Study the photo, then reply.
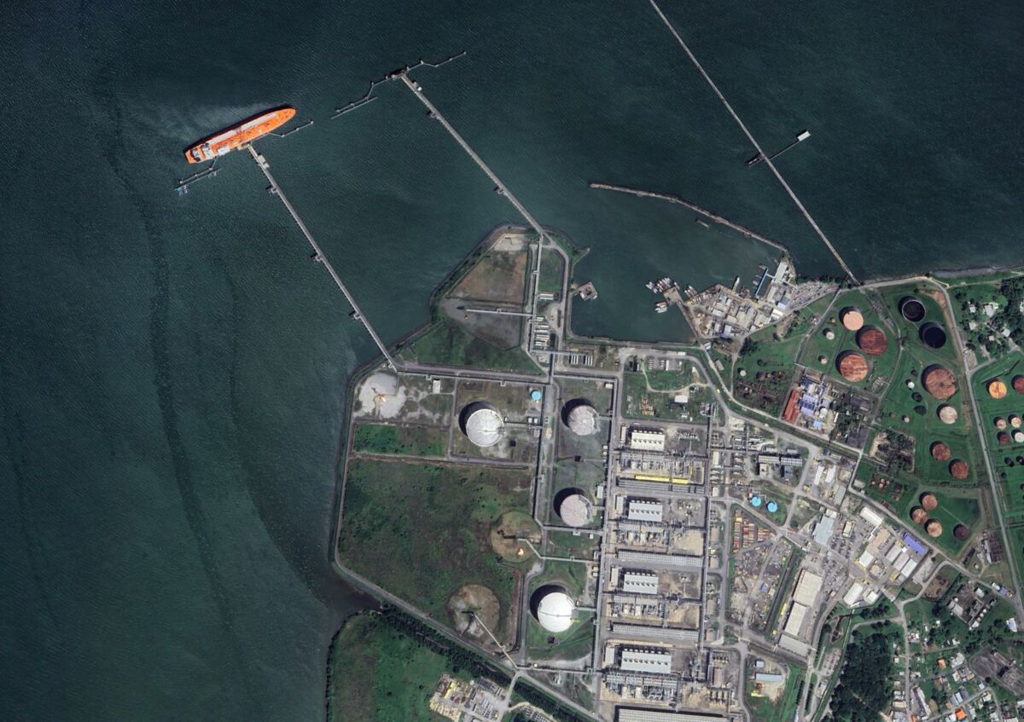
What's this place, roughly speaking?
port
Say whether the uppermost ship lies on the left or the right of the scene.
left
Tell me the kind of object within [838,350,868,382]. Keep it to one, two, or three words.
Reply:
storage tank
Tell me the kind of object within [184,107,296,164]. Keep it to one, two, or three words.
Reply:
ship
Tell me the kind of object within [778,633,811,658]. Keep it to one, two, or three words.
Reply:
building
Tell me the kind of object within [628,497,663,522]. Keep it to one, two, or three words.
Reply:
building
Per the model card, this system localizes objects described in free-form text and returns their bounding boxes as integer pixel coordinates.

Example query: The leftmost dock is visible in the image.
[252,146,397,371]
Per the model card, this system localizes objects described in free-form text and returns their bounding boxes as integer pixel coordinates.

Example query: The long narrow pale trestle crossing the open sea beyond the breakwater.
[652,0,858,285]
